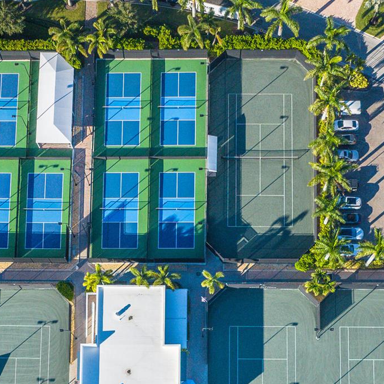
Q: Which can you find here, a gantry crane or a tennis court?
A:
tennis court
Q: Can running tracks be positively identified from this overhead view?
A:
No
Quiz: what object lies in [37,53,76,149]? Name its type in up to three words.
tent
